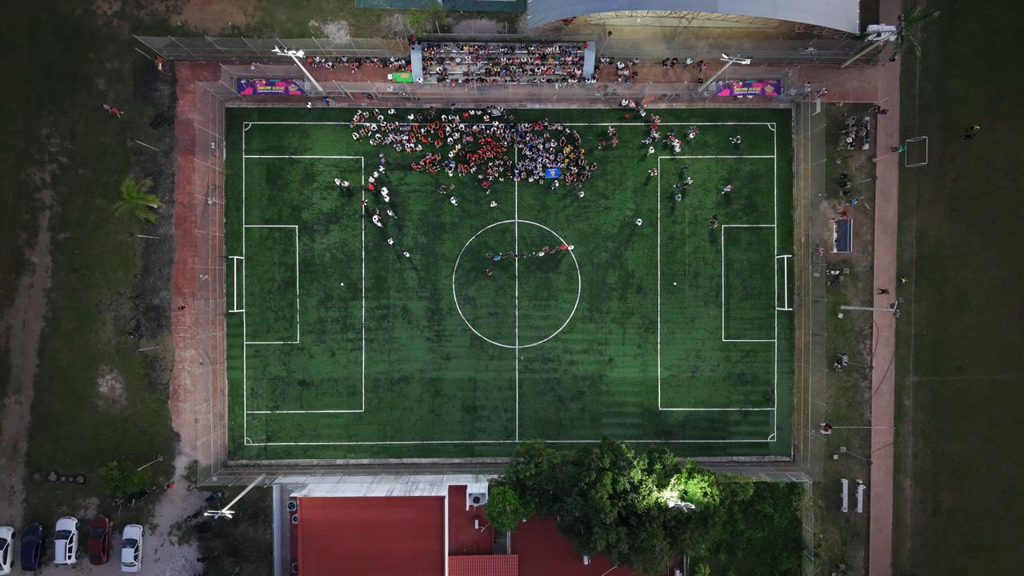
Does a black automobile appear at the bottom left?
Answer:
Yes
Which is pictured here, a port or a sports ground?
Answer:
sports ground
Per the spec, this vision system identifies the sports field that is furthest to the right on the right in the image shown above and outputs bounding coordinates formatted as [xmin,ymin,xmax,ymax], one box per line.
[892,0,1024,576]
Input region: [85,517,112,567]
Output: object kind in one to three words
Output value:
car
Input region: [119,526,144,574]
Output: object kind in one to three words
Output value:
car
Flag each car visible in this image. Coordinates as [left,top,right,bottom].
[119,526,144,574]
[85,517,112,567]
[16,525,44,574]
[0,528,14,576]
[52,517,81,567]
